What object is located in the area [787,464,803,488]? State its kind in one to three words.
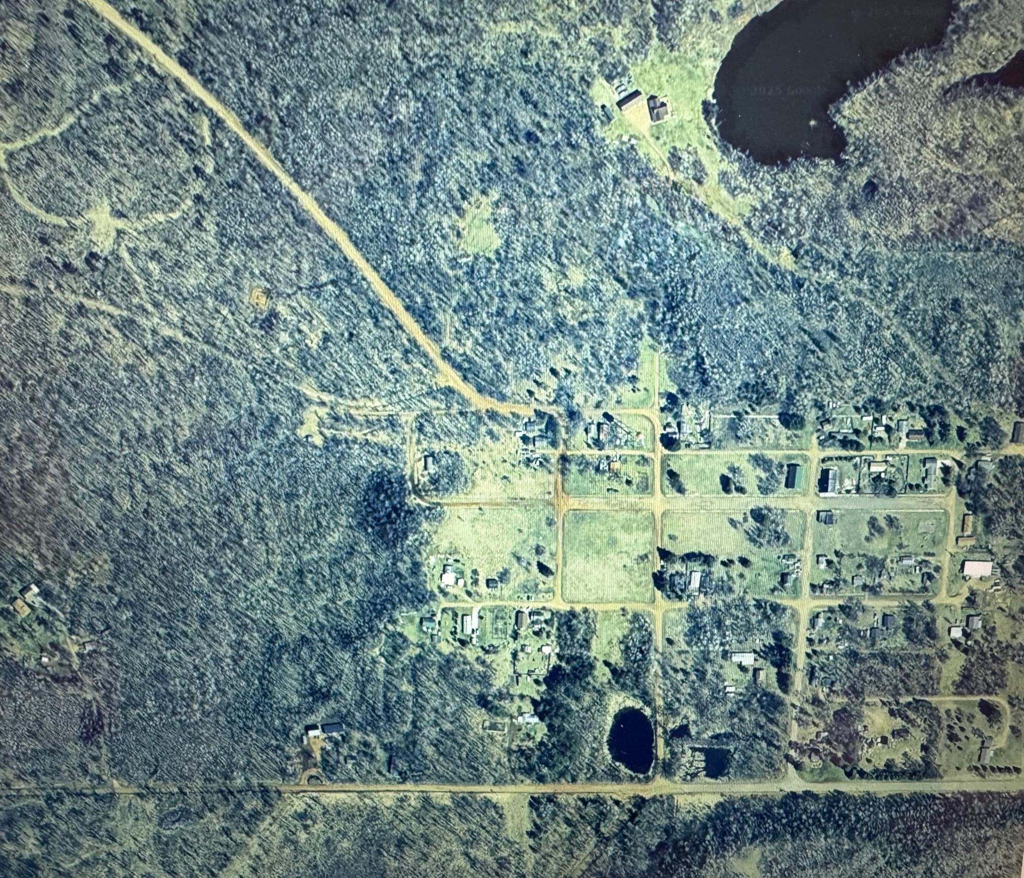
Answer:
barn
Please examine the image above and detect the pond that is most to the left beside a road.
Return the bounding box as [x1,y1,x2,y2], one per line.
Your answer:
[607,706,655,773]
